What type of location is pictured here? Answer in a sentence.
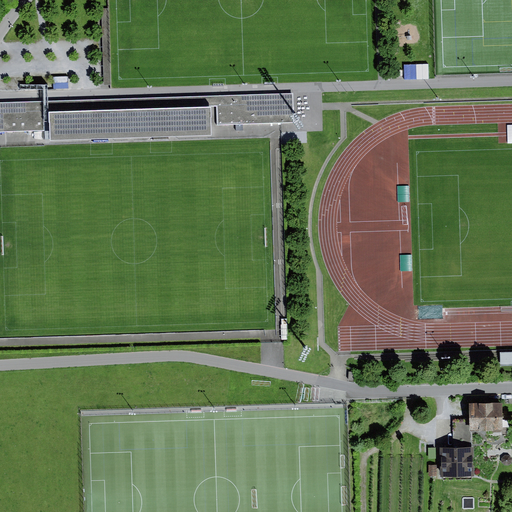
This image shows a sports ground.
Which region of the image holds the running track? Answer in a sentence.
The running track sits in the right section of the image.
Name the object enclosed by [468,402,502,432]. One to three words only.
house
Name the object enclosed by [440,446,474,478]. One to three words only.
house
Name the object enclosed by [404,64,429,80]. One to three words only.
building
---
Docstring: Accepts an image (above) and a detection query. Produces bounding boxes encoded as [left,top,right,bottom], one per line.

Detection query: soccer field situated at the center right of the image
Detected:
[409,122,512,306]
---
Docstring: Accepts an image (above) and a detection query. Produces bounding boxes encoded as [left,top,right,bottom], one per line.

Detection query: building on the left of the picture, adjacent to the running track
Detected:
[0,93,294,132]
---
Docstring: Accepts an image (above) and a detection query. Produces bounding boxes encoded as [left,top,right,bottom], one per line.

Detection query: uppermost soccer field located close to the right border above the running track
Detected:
[434,0,512,74]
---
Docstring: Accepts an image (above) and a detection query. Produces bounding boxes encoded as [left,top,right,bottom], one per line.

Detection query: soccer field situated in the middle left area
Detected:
[0,138,276,338]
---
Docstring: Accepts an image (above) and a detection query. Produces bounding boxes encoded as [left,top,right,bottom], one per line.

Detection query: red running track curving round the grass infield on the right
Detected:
[318,104,512,350]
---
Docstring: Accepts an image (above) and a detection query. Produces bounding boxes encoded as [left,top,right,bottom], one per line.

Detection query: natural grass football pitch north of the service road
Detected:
[110,0,376,88]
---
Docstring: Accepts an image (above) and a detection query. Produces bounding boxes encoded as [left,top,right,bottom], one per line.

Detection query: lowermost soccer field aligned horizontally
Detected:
[81,408,351,512]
